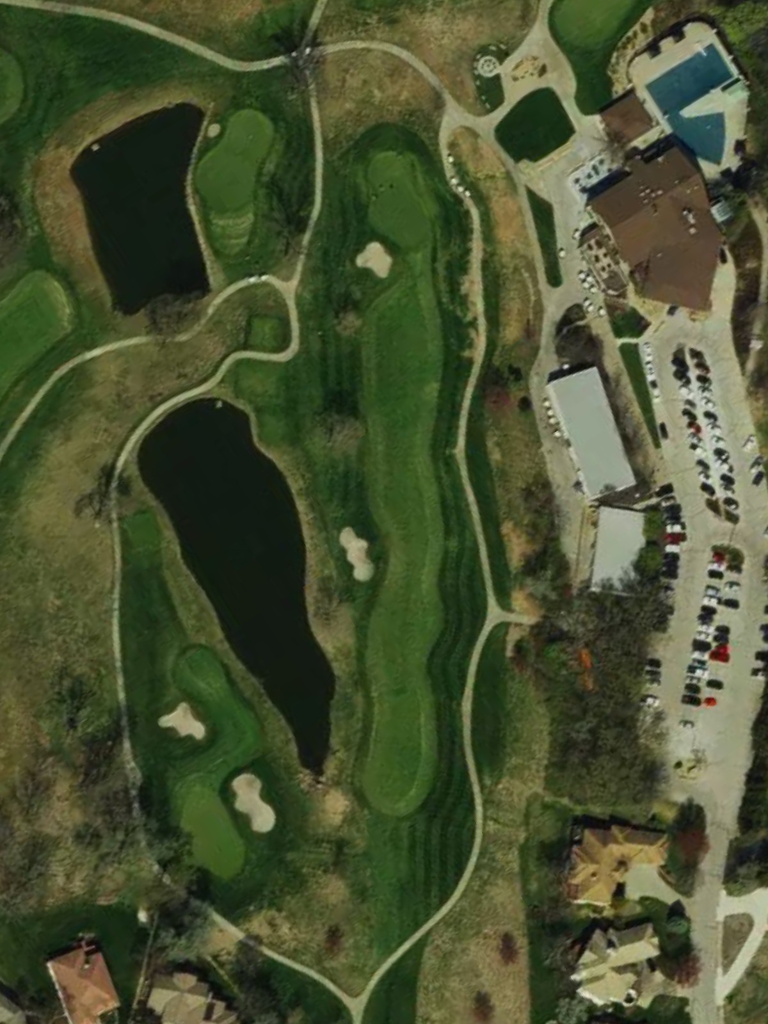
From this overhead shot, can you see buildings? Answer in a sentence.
Yes, I can see a building in this picture.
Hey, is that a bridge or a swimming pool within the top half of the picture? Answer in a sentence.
It is a swimming pool that can be seen within the top half of the picture.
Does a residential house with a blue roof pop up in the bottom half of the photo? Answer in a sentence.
No, there is no residential house with a blue roof in the bottom half of the photo.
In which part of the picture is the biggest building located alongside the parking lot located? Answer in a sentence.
Look in the top right portion of the view to spot the biggest building located alongside the parking lot.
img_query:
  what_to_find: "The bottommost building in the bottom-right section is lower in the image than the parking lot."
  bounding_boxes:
[574,925,663,1005]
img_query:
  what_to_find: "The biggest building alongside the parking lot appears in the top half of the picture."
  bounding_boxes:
[586,147,724,312]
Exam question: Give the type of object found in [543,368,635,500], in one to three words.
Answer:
building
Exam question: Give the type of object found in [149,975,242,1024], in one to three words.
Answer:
house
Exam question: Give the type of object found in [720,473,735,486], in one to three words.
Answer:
vehicle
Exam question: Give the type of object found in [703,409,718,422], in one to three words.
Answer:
vehicle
